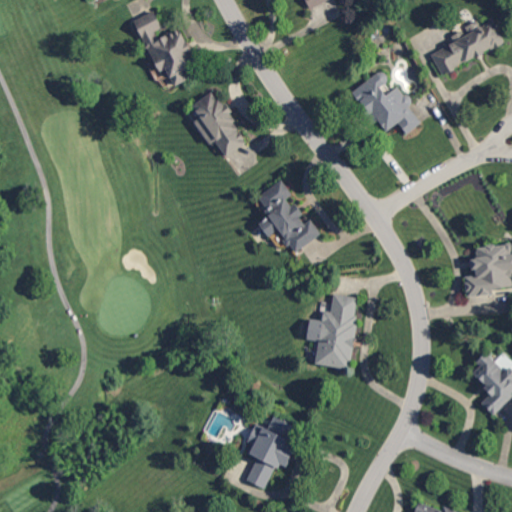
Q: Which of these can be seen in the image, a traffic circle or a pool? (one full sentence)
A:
There is a pool in the scene.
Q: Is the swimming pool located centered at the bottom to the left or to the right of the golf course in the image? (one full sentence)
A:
The swimming pool located centered at the bottom is to the right of the golf course.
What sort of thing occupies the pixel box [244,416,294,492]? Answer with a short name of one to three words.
house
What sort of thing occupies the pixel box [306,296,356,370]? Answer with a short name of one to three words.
house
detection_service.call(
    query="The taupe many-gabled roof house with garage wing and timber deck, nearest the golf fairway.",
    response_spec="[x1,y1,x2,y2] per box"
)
[132,10,192,92]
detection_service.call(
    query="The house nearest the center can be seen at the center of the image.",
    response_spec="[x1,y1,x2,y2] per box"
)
[258,180,322,254]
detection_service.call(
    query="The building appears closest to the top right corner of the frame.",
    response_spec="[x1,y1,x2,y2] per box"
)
[430,21,505,79]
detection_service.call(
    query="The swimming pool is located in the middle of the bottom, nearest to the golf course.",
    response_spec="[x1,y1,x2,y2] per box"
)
[204,408,245,444]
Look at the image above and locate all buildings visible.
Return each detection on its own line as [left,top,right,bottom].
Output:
[306,296,356,370]
[244,416,294,492]
[191,90,242,158]
[258,180,322,254]
[430,21,505,79]
[414,502,454,512]
[348,68,424,136]
[473,351,512,418]
[132,10,192,92]
[458,240,512,302]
